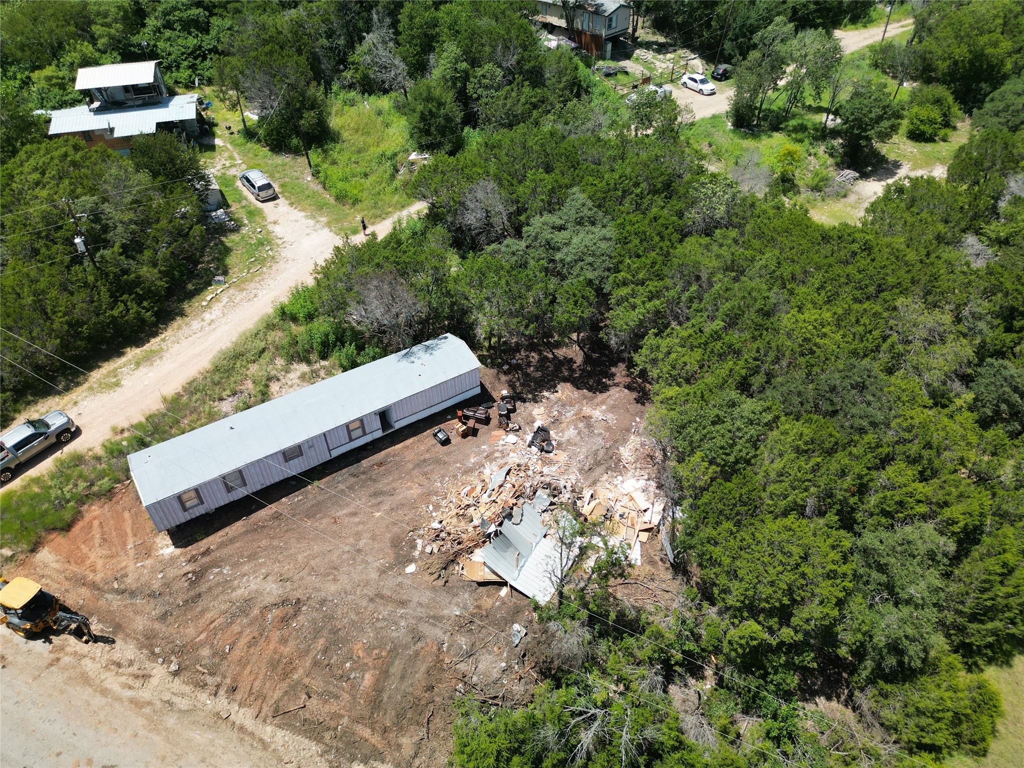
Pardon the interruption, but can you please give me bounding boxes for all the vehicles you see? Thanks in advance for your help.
[712,65,731,81]
[239,173,279,201]
[0,413,80,484]
[0,575,99,650]
[682,78,716,96]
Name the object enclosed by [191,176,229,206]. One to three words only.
shed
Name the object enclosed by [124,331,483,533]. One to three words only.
house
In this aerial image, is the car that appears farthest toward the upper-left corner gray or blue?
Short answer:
gray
